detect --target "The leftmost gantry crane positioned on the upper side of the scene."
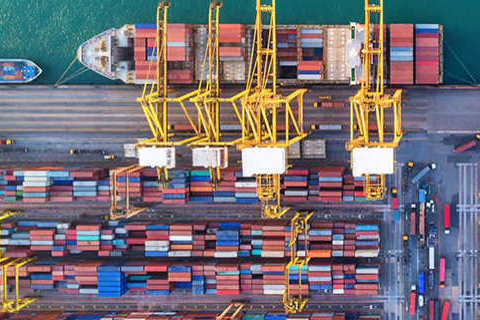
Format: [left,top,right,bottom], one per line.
[136,4,207,192]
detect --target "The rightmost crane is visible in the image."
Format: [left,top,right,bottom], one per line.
[346,0,409,200]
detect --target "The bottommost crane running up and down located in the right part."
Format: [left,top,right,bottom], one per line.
[286,256,311,320]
